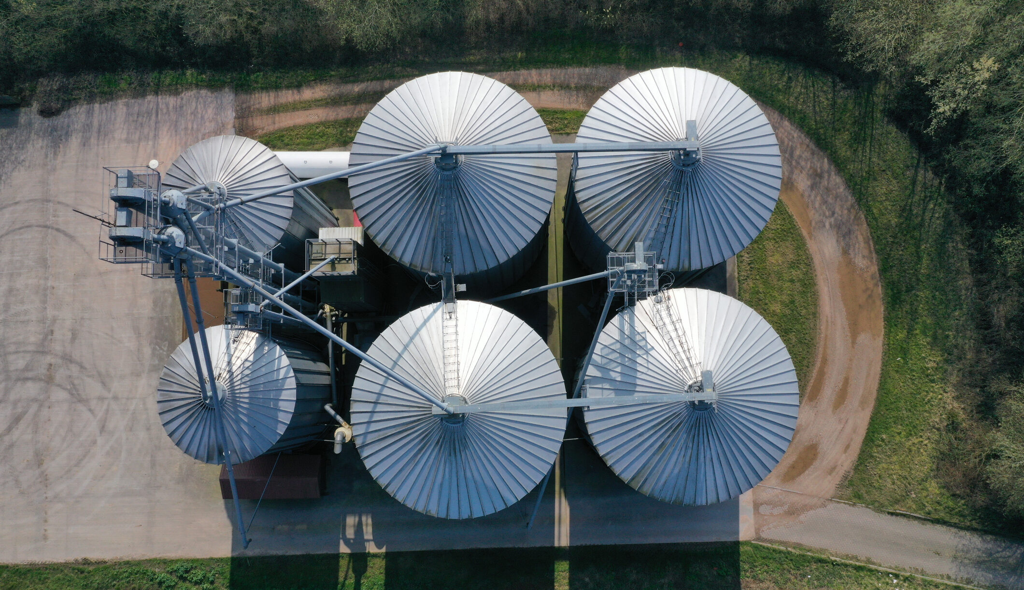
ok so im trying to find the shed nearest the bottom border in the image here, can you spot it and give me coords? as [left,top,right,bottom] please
[216,448,329,499]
